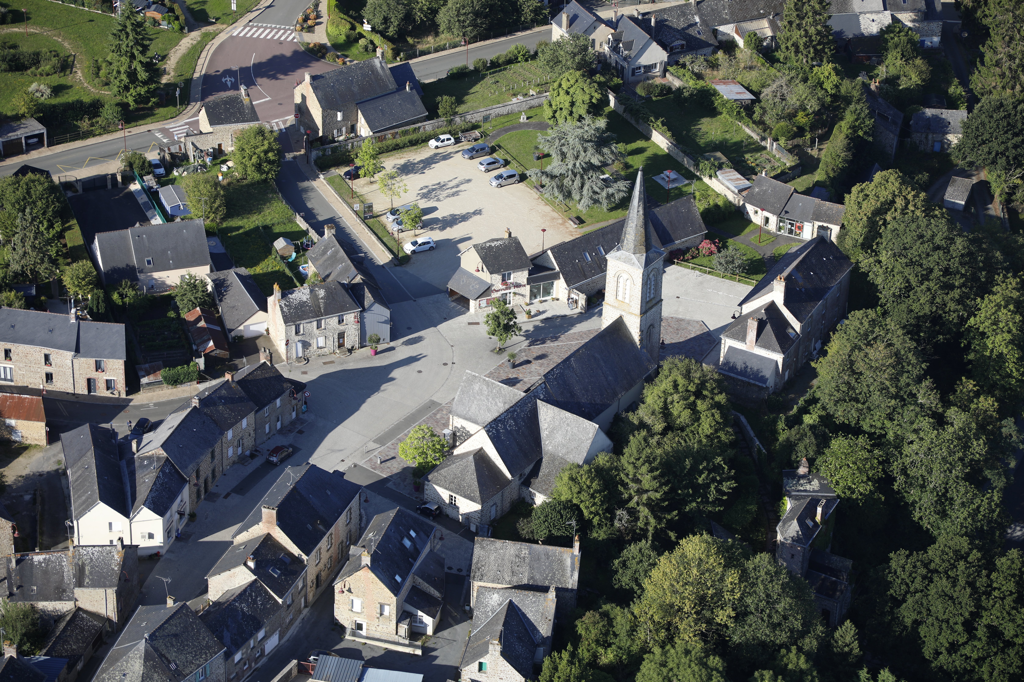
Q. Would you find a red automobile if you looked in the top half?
No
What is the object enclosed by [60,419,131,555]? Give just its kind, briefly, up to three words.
house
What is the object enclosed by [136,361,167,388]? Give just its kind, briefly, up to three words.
shed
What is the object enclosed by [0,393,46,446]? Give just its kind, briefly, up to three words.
barn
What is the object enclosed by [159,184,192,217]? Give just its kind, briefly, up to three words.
building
